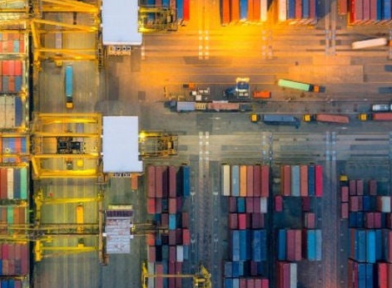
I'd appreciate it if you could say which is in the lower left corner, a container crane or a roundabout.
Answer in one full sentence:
Visible in the lower left corner is a container crane.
